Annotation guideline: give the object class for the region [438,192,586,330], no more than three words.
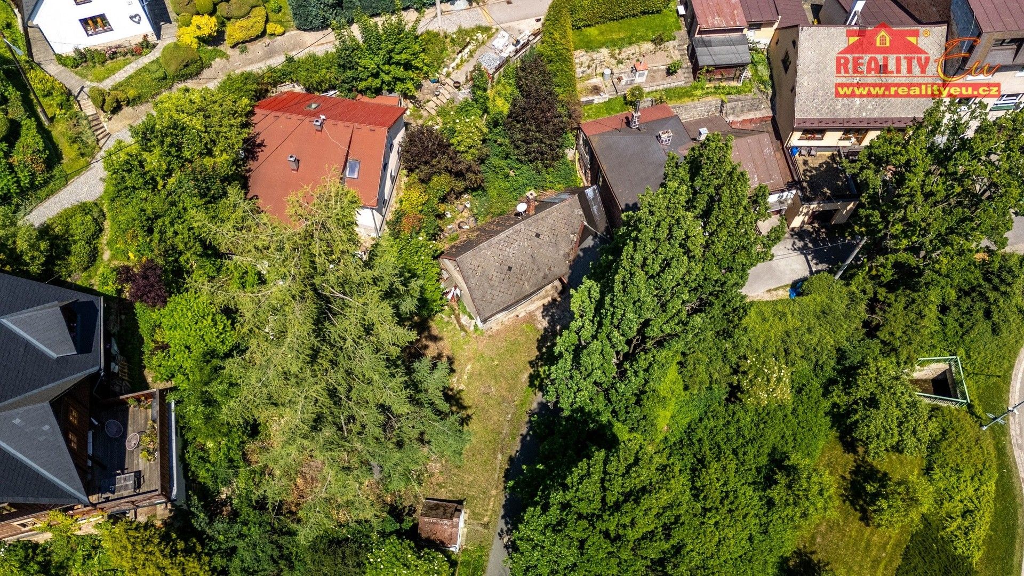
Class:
house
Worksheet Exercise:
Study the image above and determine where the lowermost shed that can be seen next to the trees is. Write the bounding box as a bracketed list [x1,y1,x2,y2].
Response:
[418,501,466,557]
